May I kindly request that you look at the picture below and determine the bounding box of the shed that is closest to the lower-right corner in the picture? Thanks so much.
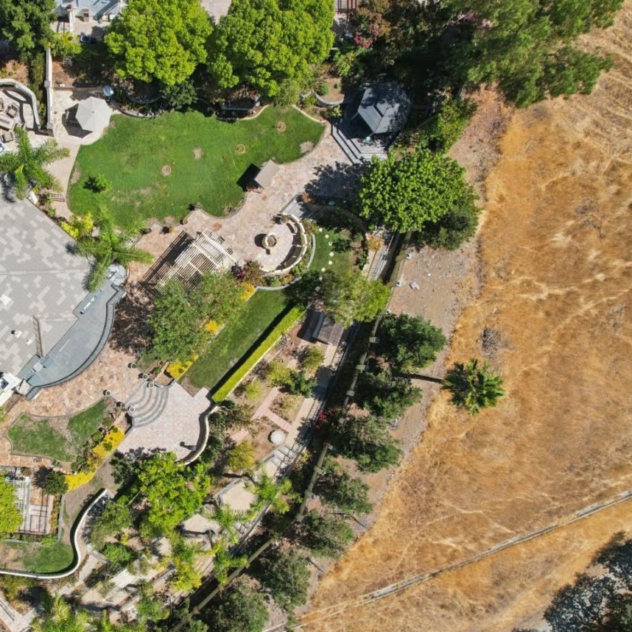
[307,309,346,348]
